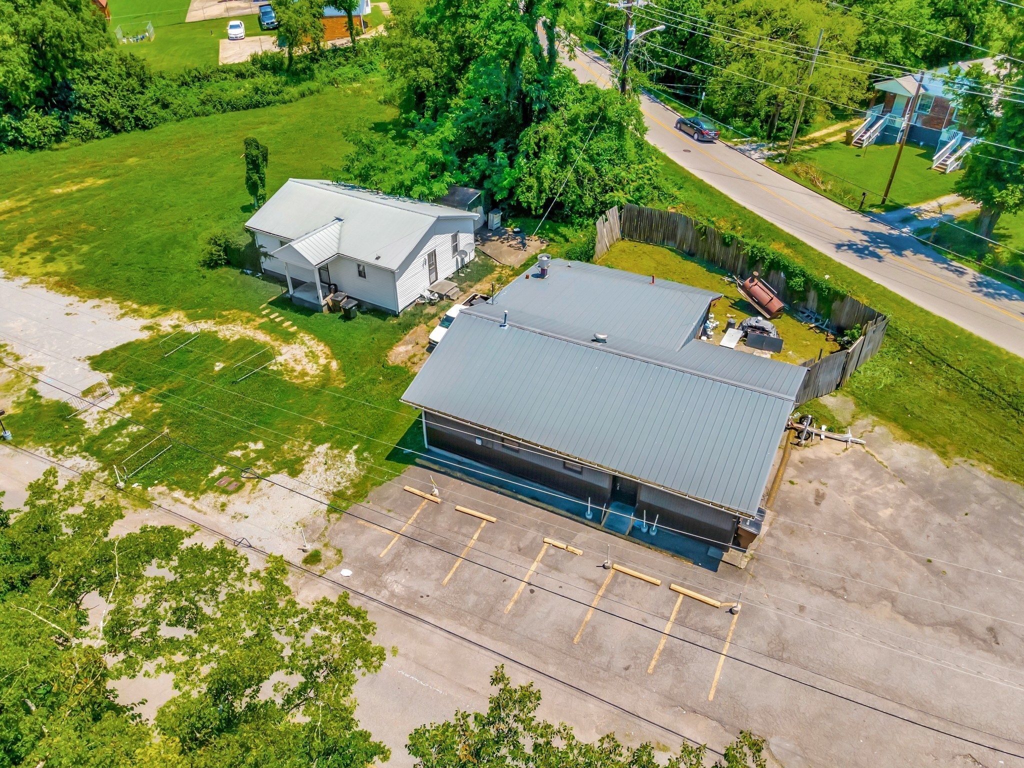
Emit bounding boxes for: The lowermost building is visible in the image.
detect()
[397,258,807,553]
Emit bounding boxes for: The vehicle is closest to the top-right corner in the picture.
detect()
[678,121,719,144]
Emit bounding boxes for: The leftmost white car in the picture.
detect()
[227,23,245,40]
